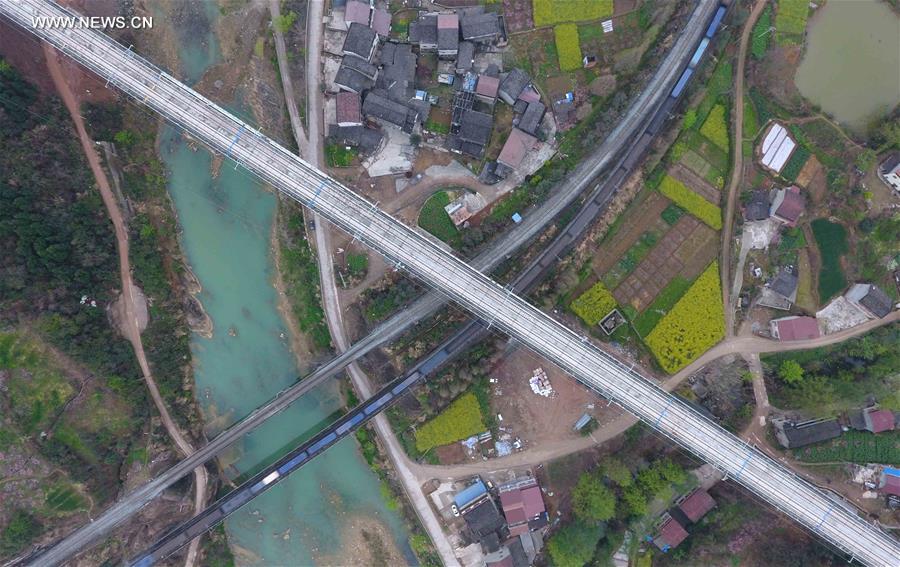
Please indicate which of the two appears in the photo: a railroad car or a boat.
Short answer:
railroad car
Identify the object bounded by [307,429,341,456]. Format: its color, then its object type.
blue rail car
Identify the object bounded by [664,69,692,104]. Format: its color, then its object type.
blue rail car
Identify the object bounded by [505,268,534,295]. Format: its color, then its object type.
gray rail car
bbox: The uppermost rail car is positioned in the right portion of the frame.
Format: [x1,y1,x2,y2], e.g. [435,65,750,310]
[701,6,724,41]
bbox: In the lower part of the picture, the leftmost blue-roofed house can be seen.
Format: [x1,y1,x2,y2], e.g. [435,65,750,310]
[454,476,488,508]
